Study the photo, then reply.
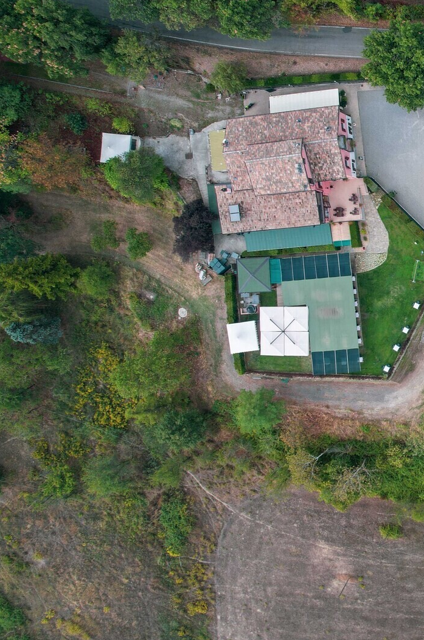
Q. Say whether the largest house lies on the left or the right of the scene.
right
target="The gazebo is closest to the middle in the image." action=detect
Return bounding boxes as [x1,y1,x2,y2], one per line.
[227,320,260,353]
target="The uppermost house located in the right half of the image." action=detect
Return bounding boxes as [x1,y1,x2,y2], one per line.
[208,88,356,251]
